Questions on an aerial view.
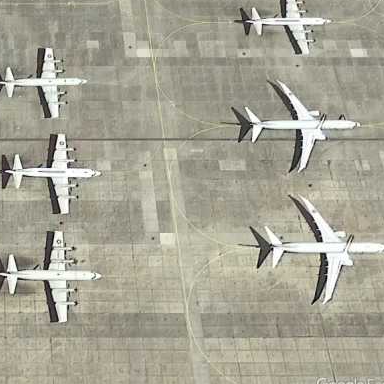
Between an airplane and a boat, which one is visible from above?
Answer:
airplane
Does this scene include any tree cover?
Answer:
No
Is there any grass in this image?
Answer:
No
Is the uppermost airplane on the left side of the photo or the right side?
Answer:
right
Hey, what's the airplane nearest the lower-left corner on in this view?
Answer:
apron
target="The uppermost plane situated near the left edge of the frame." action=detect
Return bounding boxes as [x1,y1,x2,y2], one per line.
[0,46,87,117]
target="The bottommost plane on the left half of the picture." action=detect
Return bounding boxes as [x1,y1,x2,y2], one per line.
[0,230,101,322]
